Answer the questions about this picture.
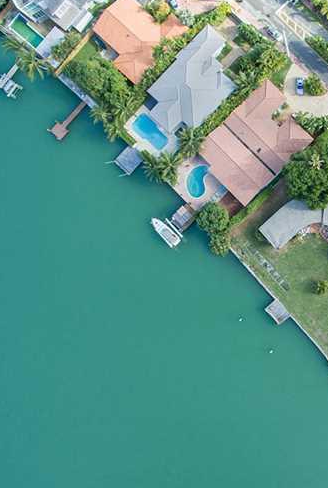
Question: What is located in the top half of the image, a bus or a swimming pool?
swimming pool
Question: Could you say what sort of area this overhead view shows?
residential area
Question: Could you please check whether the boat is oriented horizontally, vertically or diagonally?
diagonally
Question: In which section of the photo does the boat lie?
center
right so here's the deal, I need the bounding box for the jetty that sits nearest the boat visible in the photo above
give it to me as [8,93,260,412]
[172,205,198,233]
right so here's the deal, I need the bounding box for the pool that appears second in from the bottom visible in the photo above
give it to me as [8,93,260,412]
[132,112,169,151]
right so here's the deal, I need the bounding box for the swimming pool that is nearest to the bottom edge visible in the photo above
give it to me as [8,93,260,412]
[184,163,212,199]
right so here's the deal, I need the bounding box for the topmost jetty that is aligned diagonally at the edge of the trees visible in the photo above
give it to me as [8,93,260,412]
[48,103,90,141]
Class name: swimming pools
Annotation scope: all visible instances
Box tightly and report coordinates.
[7,13,46,51]
[132,112,169,151]
[184,163,212,199]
